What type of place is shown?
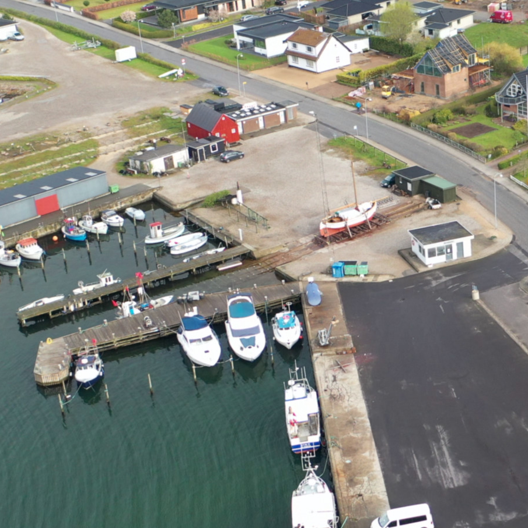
port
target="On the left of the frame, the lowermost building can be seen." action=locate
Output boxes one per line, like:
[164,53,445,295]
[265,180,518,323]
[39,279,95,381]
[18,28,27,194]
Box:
[0,159,97,225]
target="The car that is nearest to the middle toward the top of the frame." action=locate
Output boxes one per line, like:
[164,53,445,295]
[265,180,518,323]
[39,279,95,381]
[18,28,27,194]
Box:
[218,150,246,164]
